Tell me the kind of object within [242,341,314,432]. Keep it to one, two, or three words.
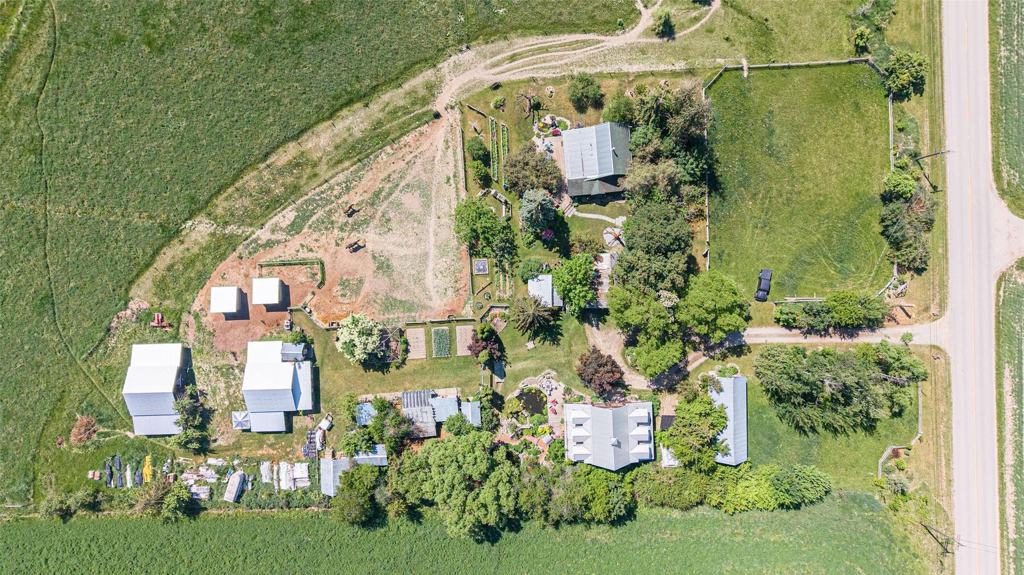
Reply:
barn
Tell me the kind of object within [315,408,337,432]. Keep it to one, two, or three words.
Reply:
truck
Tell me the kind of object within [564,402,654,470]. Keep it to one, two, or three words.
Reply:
house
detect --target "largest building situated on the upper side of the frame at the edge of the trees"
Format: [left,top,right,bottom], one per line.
[561,121,633,198]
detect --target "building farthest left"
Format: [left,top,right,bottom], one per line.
[122,343,186,435]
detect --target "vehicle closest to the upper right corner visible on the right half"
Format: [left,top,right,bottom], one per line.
[755,270,771,300]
